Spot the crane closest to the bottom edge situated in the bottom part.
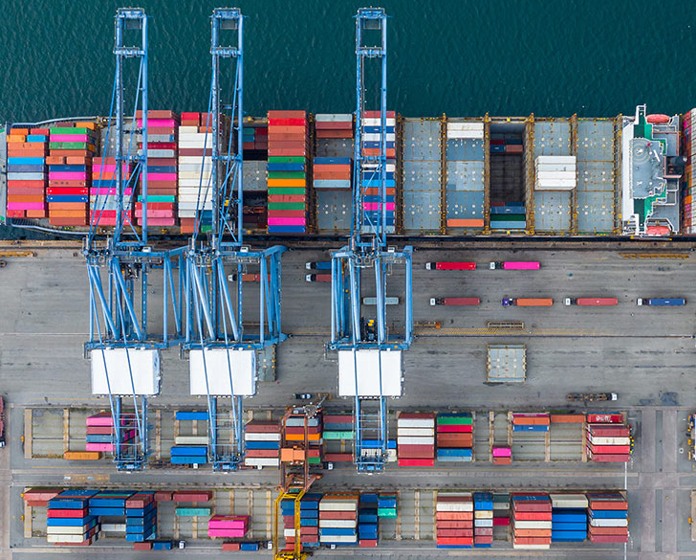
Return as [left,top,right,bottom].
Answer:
[271,477,315,560]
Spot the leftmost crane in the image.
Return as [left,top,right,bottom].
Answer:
[80,7,208,471]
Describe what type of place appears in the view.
port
